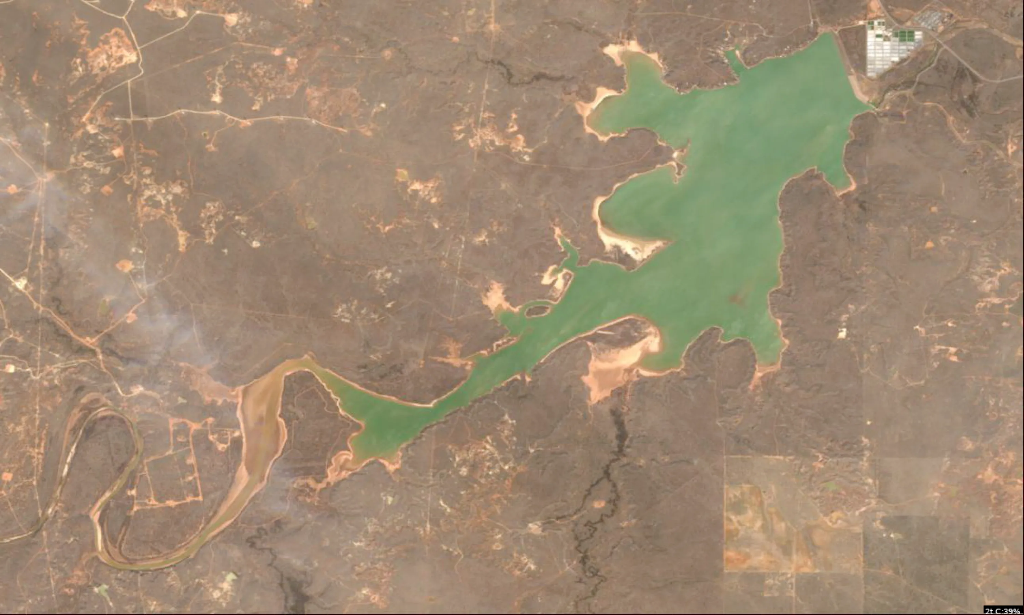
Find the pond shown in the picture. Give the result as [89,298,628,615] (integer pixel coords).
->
[277,34,872,469]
